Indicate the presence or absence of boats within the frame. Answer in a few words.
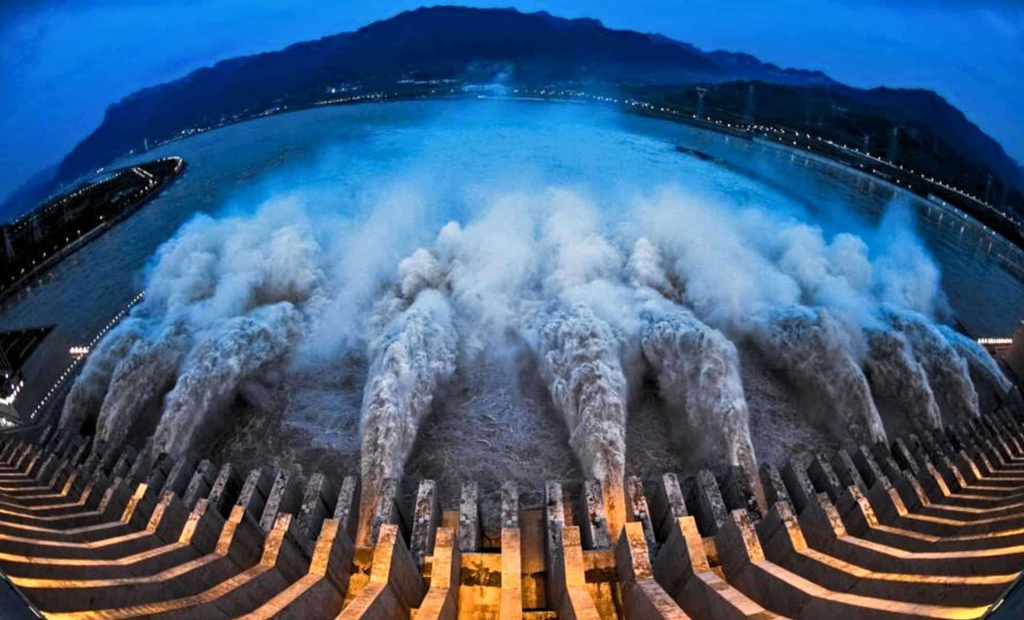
No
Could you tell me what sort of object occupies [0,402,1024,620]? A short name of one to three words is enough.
dam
